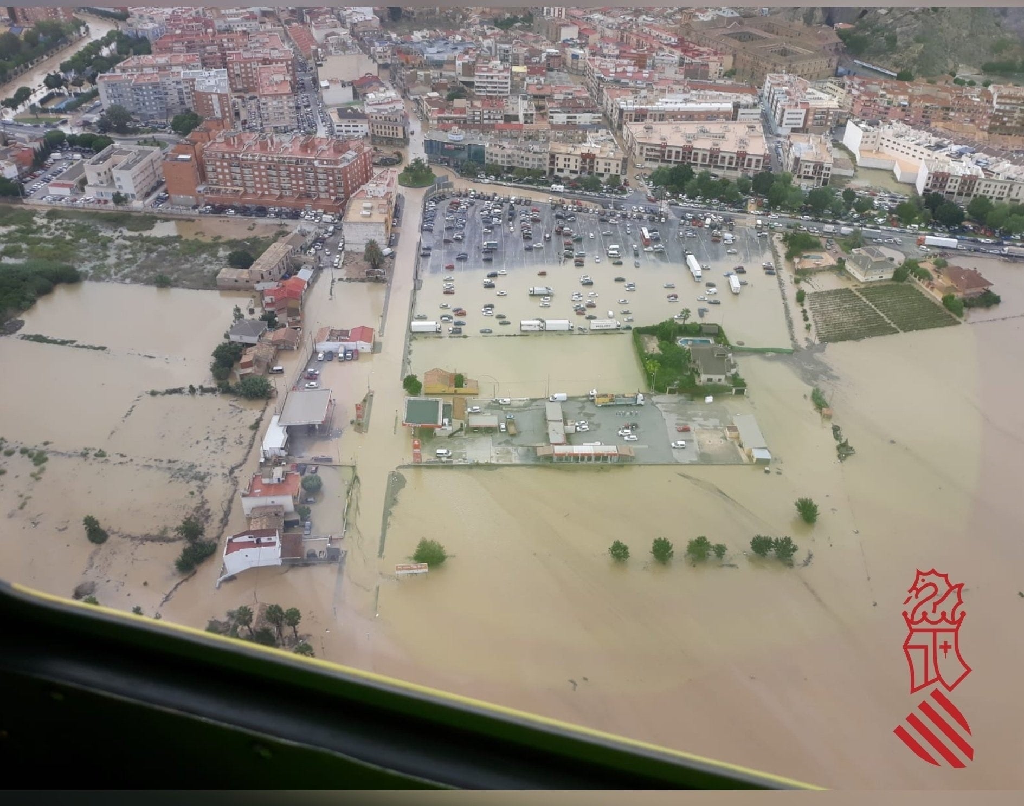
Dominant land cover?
water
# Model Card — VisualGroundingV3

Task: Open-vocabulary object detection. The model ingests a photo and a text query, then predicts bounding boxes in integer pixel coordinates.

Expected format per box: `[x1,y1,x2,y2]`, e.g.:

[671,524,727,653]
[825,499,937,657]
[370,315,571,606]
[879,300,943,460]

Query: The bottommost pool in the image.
[680,335,716,349]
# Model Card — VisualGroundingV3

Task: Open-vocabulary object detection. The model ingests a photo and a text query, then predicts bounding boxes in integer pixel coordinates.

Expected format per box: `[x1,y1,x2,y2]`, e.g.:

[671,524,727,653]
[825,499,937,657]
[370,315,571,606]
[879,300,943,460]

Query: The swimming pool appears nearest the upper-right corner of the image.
[795,249,837,267]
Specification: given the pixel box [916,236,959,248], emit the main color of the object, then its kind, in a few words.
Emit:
white vehicle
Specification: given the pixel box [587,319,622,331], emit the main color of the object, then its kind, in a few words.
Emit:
white vehicle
